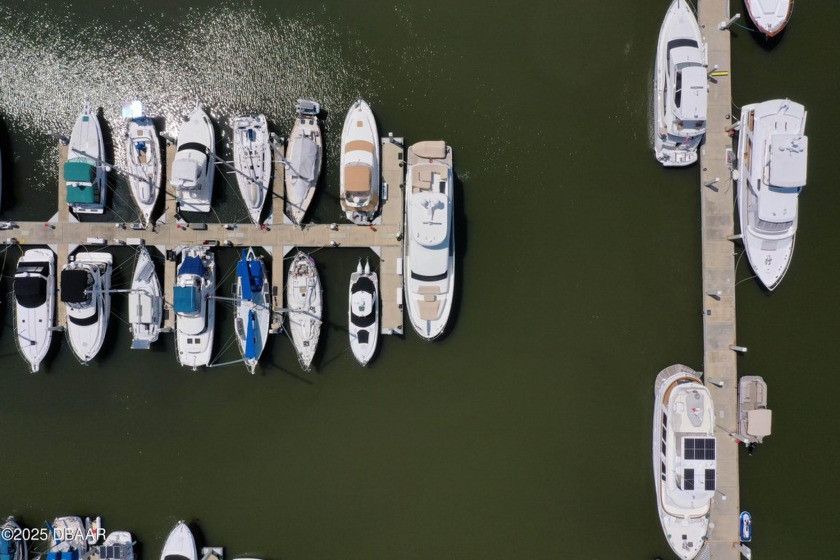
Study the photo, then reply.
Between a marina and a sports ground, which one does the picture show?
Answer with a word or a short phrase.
marina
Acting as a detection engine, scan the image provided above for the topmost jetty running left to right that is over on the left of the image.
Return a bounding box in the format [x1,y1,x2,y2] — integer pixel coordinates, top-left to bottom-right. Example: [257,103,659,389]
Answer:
[0,134,404,335]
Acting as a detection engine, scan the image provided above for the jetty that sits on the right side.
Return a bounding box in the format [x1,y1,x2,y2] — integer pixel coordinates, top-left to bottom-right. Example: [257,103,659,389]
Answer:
[695,0,739,560]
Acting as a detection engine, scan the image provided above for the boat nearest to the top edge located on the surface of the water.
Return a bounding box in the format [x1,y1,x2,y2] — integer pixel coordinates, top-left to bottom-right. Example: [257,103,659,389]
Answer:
[733,0,798,40]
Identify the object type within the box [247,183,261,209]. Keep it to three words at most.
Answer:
boat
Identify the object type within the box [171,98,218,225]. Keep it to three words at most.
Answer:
boat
